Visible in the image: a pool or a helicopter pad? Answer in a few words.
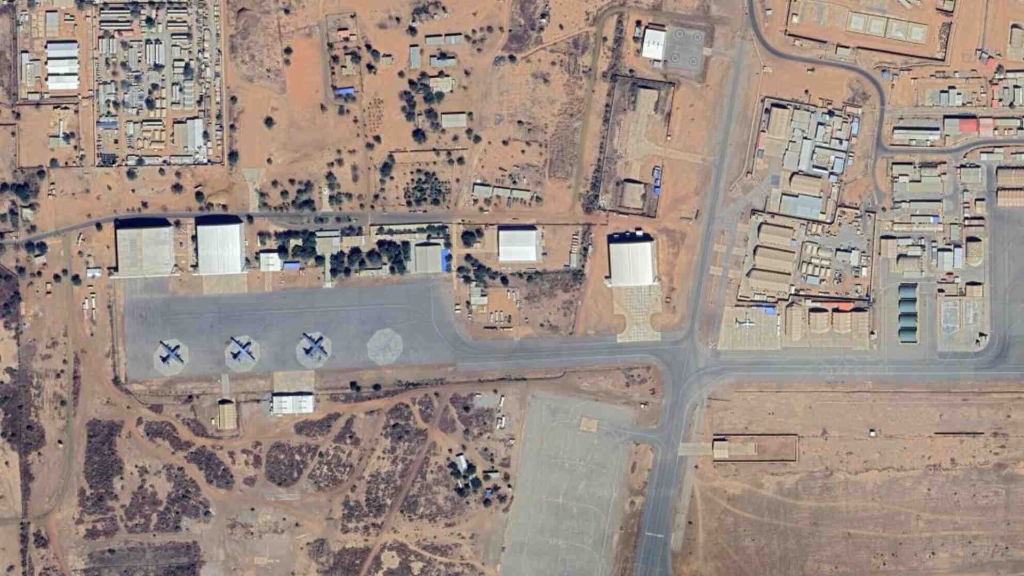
helicopter pad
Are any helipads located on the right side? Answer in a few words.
Yes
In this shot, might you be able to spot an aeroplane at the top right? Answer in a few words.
No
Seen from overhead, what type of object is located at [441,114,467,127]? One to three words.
building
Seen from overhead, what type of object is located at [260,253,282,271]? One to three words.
hangar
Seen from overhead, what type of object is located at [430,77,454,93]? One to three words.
house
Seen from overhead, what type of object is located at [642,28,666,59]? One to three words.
hangar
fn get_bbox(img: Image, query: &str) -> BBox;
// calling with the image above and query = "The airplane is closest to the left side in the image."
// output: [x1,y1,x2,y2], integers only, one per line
[162,343,185,366]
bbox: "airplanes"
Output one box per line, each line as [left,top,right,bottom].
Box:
[232,340,256,363]
[304,335,327,358]
[162,343,185,366]
[738,316,755,333]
